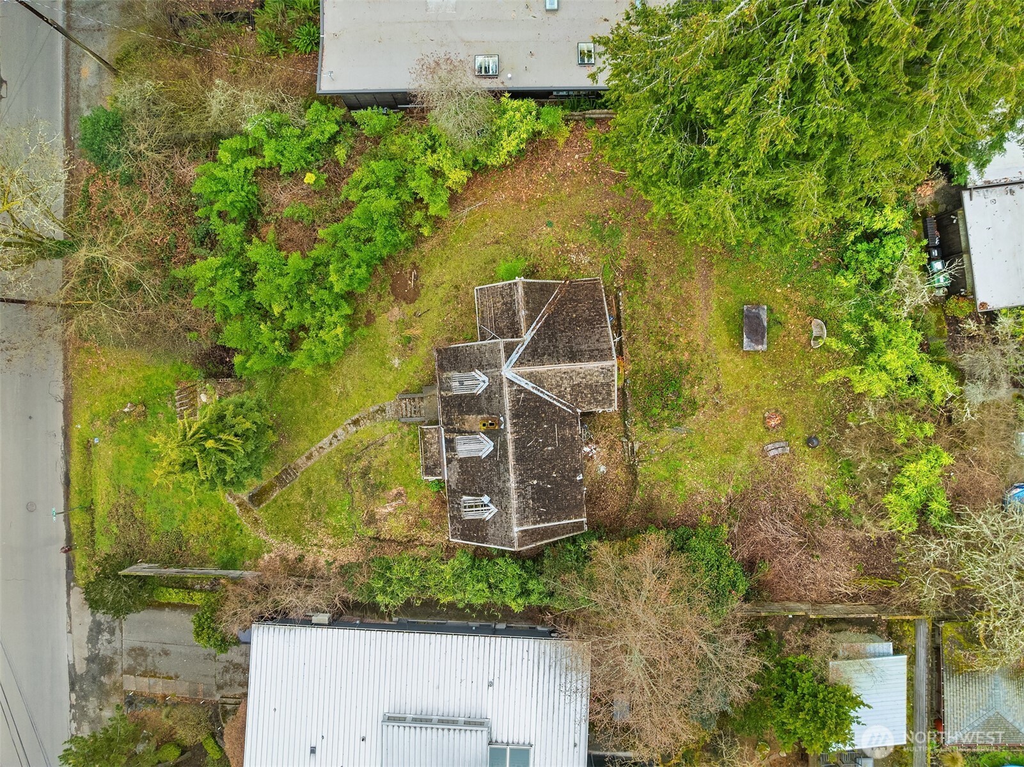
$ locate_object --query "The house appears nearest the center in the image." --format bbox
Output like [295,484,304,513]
[419,277,619,551]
